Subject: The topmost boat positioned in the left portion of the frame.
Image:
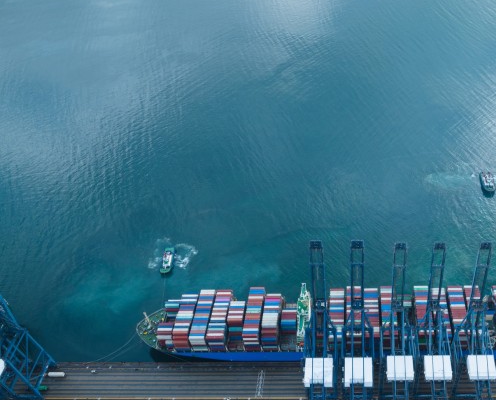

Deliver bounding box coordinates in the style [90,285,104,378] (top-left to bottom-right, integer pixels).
[158,248,173,275]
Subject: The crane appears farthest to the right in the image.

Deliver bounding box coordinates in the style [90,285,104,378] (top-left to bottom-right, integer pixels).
[453,240,496,400]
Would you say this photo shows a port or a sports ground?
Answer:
port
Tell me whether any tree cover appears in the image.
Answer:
No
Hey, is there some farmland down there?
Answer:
No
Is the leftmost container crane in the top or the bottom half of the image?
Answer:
bottom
